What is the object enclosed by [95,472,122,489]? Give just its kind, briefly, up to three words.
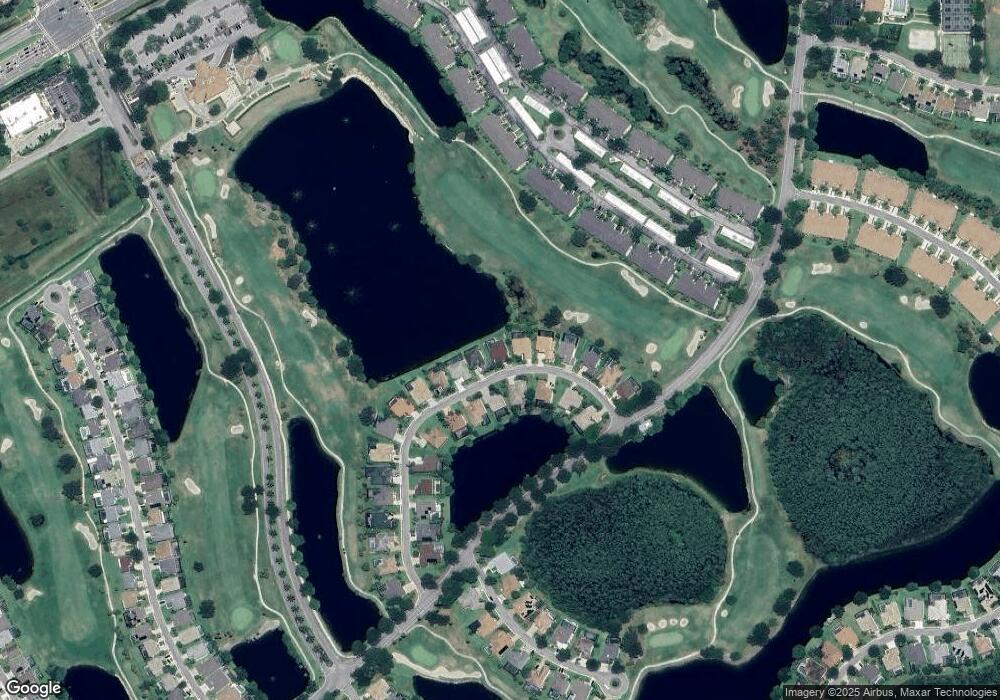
house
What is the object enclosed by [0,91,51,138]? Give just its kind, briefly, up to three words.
building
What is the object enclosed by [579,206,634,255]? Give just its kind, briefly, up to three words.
house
